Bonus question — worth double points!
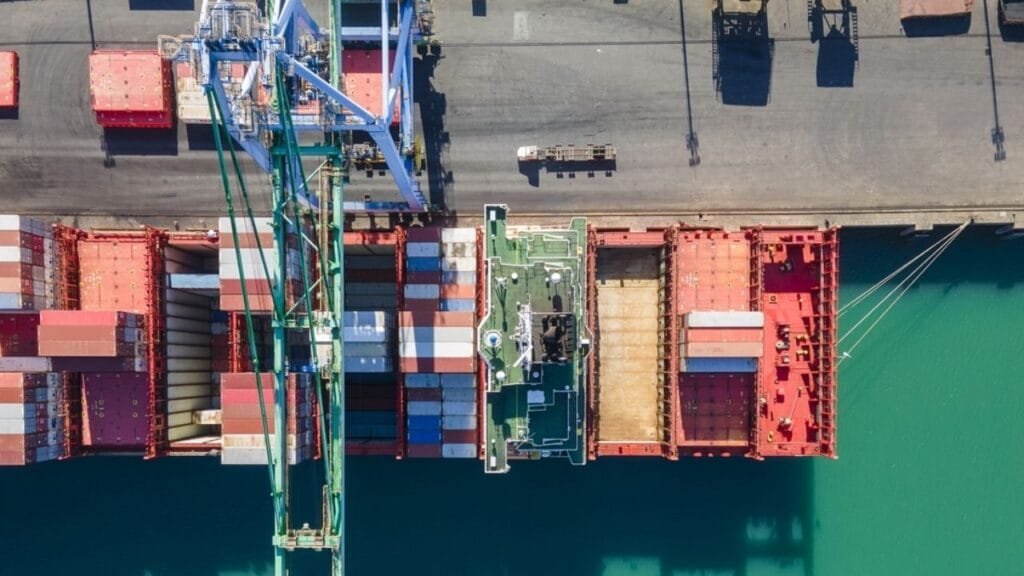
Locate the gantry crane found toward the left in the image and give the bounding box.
[152,0,450,576]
